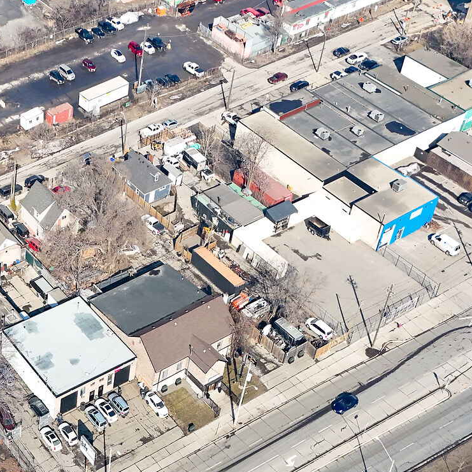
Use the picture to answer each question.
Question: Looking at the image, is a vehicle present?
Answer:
Yes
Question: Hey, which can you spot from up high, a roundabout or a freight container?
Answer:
freight container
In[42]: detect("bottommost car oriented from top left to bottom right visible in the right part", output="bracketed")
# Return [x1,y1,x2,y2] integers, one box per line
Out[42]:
[304,318,336,342]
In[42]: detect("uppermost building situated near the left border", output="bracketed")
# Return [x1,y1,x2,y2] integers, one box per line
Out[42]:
[19,106,44,129]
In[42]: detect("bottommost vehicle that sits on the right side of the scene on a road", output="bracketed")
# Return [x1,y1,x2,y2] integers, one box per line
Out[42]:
[330,392,361,412]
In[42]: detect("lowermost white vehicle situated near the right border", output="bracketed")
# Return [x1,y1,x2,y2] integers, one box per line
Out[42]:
[427,233,462,257]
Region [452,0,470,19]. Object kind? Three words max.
vehicle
